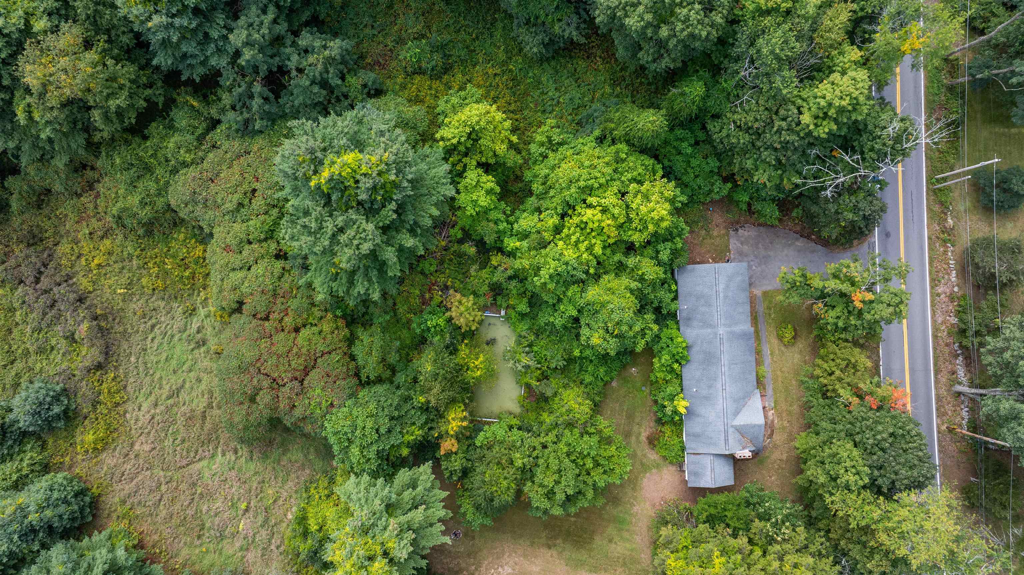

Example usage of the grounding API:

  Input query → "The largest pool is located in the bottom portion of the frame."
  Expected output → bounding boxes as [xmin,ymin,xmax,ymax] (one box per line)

[469,313,526,423]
